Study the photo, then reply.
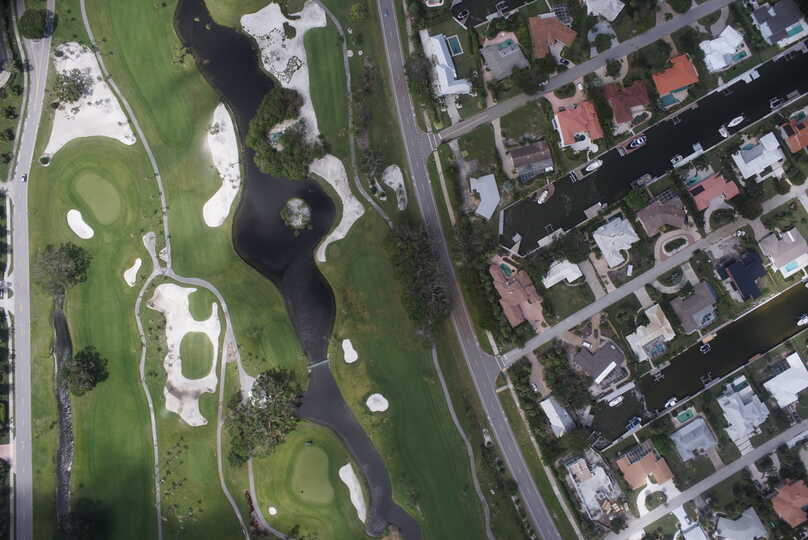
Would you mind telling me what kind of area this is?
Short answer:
golf course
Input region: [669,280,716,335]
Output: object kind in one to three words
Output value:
house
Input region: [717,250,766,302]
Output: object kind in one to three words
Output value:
house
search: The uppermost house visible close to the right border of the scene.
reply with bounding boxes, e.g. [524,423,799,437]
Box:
[751,0,802,45]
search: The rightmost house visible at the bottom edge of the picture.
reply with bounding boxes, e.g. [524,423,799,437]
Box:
[770,478,808,529]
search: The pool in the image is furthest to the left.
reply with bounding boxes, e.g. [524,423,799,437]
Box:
[448,35,463,55]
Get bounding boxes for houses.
[428,34,473,98]
[682,525,705,540]
[595,214,638,268]
[780,109,808,153]
[718,392,770,442]
[650,54,699,115]
[625,305,676,363]
[689,173,738,208]
[760,227,808,272]
[751,0,802,45]
[636,189,688,234]
[554,99,605,147]
[616,441,672,491]
[699,24,743,71]
[717,250,766,302]
[715,506,768,540]
[541,261,583,289]
[470,174,500,219]
[584,0,625,24]
[529,0,577,60]
[599,79,651,126]
[489,267,543,328]
[731,130,785,178]
[539,396,574,437]
[671,419,716,460]
[770,478,808,529]
[481,41,532,86]
[764,352,808,401]
[669,280,716,335]
[574,337,621,383]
